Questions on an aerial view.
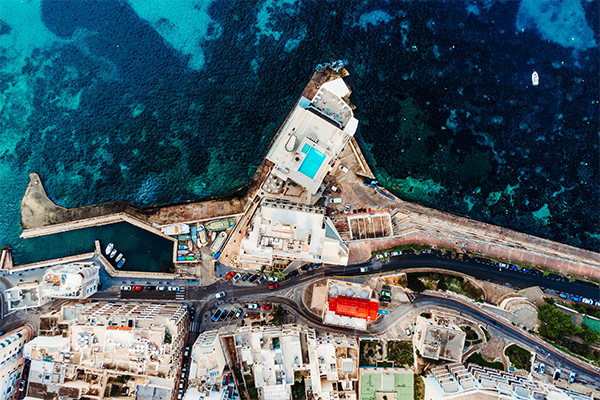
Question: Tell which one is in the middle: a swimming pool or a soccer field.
swimming pool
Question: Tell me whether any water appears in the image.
Yes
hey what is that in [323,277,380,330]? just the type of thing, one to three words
building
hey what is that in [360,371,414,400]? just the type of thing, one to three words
sports court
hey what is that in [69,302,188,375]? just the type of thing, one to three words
building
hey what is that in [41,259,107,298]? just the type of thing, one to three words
house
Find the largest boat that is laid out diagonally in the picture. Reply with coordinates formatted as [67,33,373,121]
[210,232,225,255]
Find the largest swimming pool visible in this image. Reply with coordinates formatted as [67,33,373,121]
[297,145,328,180]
